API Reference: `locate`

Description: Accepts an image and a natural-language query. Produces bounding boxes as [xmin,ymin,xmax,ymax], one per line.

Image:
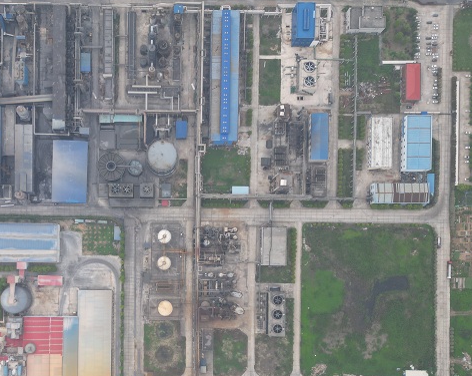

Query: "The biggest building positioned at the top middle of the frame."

[211,9,239,146]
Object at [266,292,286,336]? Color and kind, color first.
gray cooling tower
